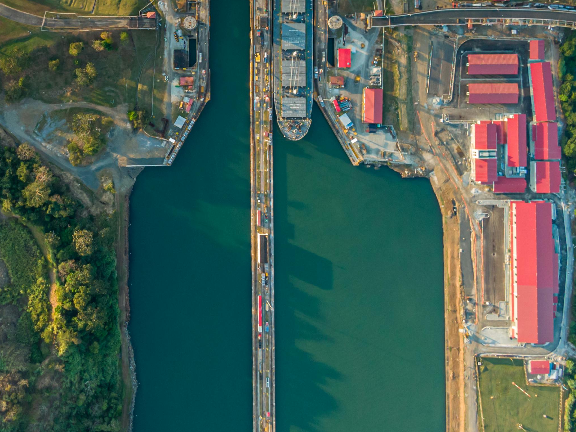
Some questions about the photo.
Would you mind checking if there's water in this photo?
Yes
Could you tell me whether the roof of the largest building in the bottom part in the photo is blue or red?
red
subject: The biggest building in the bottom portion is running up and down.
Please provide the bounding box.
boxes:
[507,201,553,345]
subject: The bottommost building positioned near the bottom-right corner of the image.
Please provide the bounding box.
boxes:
[528,359,550,374]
